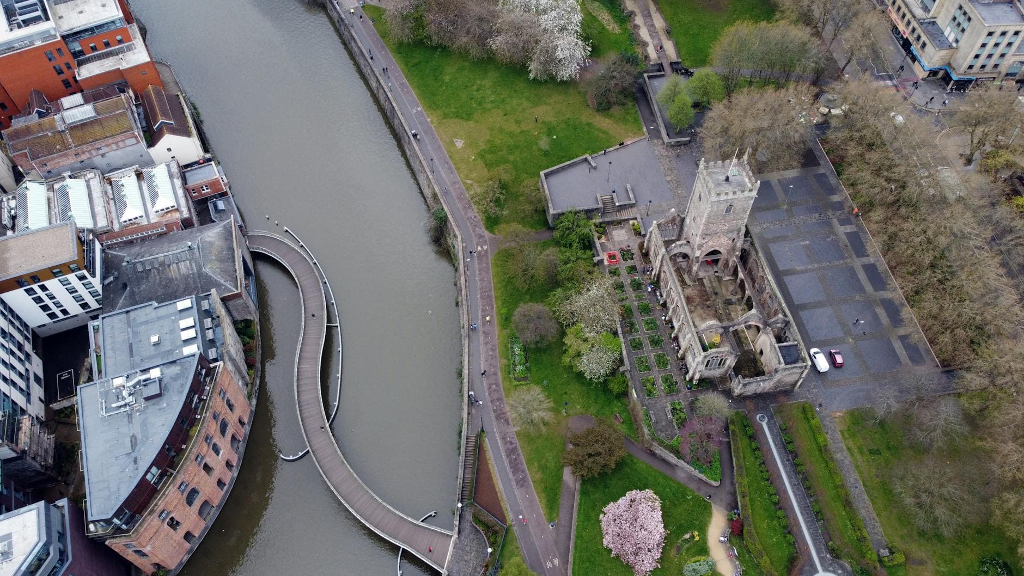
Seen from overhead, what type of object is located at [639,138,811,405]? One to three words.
church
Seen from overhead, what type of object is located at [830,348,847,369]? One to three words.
car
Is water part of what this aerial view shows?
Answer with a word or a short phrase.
Yes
